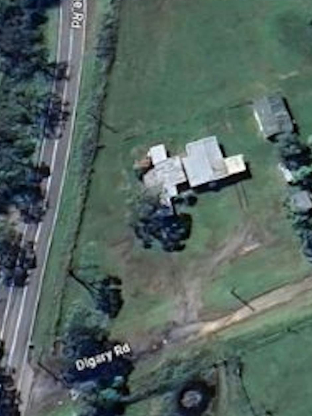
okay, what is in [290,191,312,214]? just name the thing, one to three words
shed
